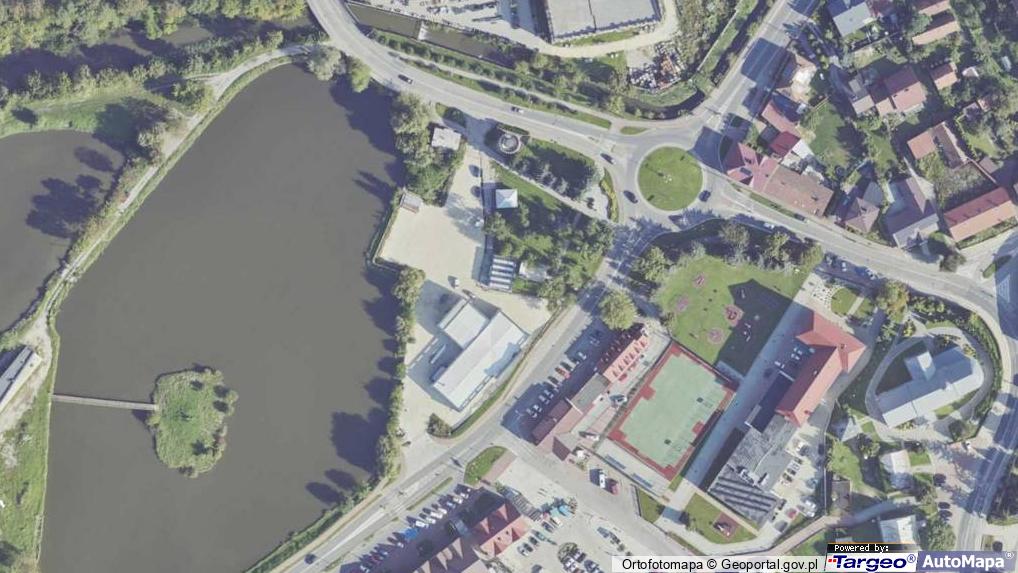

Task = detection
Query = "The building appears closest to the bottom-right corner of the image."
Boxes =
[880,515,920,556]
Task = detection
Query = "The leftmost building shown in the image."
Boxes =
[0,347,43,411]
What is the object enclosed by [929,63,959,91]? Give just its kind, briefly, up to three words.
house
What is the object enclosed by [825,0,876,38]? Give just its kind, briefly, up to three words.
house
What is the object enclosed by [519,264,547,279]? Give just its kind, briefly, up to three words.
shed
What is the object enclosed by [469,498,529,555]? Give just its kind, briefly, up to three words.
building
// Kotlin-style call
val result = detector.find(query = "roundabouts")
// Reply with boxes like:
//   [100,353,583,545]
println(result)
[625,132,717,224]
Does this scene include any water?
Yes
